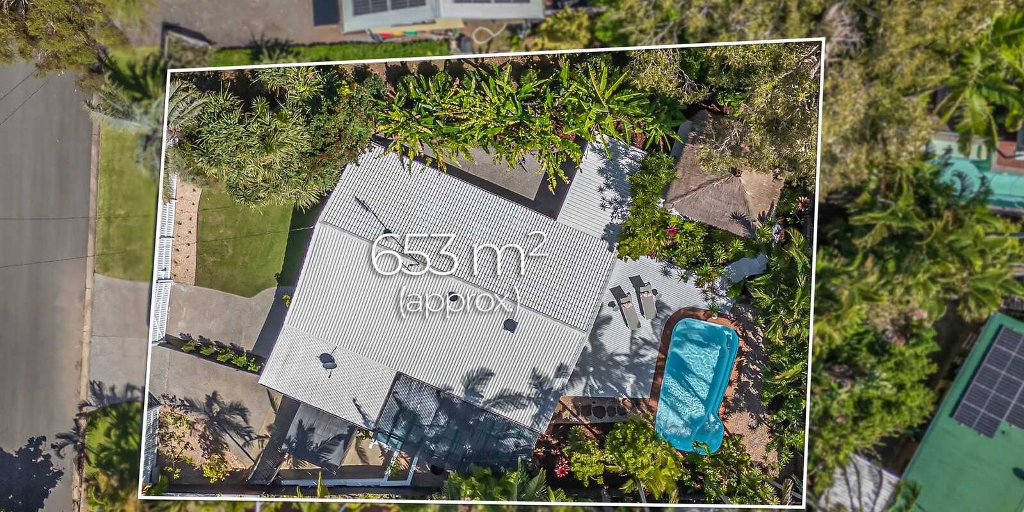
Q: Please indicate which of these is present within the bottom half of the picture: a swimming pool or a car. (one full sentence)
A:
It is a swimming pool that can be seen within the bottom half of the picture.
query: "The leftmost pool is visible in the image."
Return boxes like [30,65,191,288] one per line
[649,309,748,461]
